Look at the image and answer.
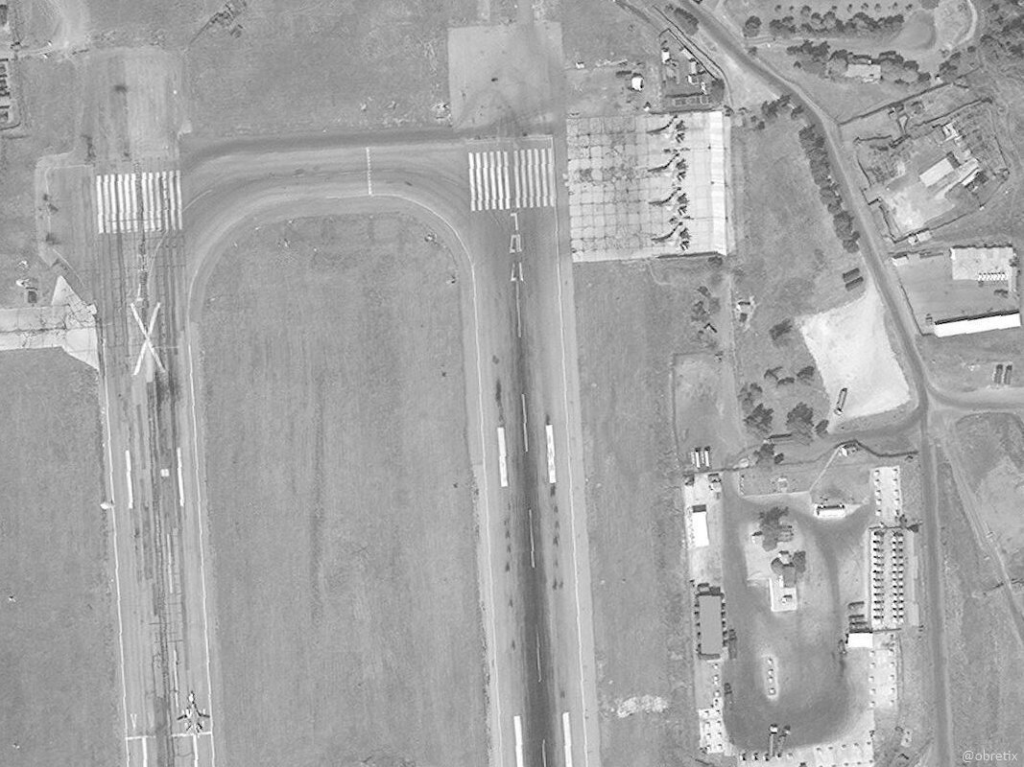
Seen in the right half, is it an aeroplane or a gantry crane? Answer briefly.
aeroplane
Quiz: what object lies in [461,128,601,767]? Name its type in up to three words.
runway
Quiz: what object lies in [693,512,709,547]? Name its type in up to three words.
building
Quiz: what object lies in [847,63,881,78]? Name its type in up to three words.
house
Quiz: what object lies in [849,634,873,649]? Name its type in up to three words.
building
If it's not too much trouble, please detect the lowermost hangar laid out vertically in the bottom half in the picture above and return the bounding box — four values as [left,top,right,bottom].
[696,596,724,655]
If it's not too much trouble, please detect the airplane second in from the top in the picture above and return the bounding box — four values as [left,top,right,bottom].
[649,158,690,187]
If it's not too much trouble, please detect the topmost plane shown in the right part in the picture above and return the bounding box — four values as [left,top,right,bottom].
[647,120,689,149]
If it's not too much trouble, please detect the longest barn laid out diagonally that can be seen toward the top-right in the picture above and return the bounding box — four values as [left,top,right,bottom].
[921,158,954,186]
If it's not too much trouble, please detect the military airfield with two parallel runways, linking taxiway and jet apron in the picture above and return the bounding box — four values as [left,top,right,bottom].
[0,22,727,767]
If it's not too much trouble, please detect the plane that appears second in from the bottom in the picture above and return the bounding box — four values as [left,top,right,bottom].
[652,227,693,256]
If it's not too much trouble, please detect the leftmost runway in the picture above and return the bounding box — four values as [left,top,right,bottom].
[88,164,225,767]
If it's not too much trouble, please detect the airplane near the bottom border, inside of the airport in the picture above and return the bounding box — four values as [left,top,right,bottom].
[180,696,211,735]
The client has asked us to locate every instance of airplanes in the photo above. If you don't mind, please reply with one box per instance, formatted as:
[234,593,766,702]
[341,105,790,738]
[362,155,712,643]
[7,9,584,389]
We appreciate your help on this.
[652,227,693,256]
[647,120,689,149]
[180,696,211,735]
[649,158,690,187]
[651,191,690,220]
